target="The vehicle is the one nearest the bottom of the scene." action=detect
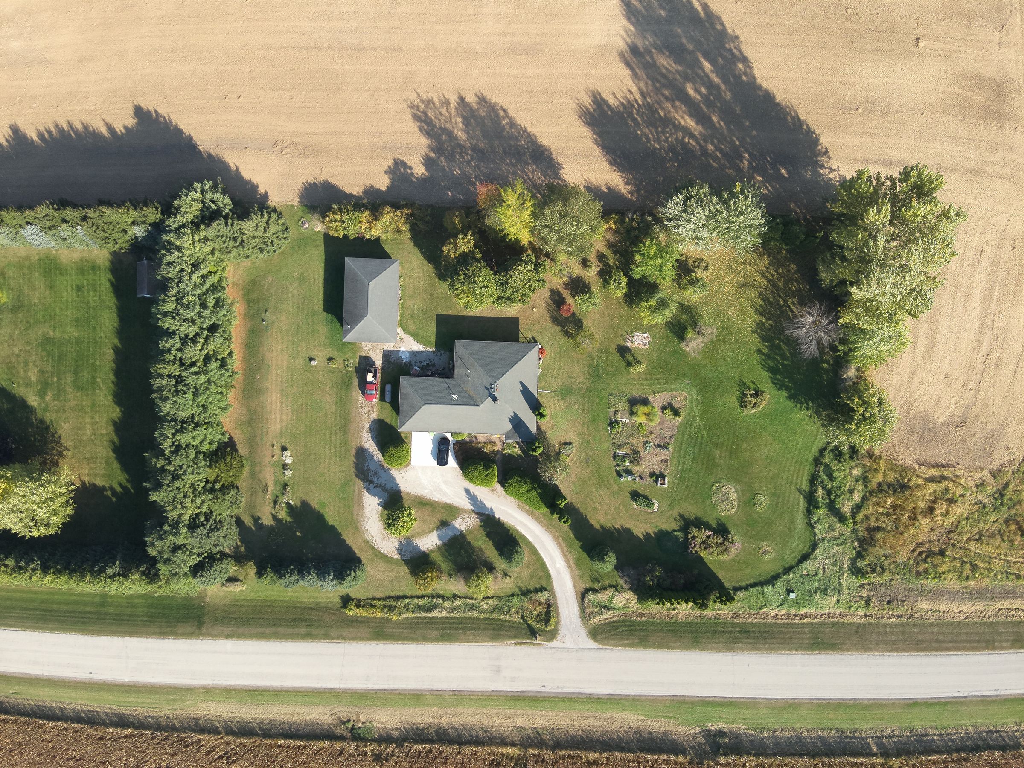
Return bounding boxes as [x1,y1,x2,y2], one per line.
[436,437,450,467]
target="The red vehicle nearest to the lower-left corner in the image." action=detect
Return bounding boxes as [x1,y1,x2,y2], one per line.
[364,366,379,403]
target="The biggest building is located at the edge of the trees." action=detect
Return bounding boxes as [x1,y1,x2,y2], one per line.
[398,340,551,443]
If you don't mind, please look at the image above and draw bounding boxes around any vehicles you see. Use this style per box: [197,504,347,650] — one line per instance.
[364,366,379,403]
[436,437,450,467]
